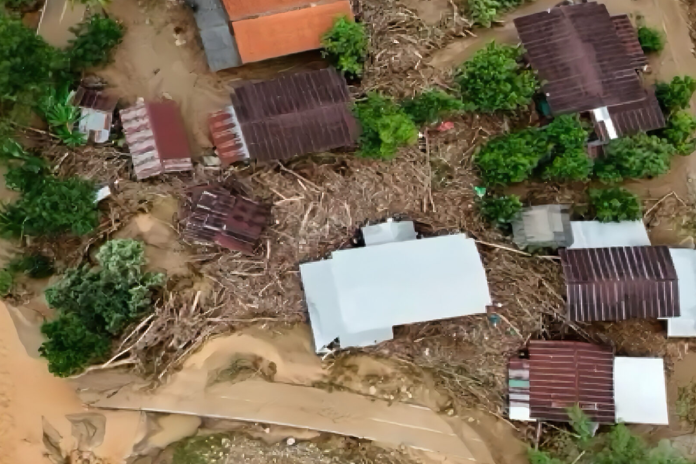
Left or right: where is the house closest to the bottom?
right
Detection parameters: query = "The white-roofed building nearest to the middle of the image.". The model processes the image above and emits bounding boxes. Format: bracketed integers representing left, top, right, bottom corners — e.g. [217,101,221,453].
[300,220,492,352]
